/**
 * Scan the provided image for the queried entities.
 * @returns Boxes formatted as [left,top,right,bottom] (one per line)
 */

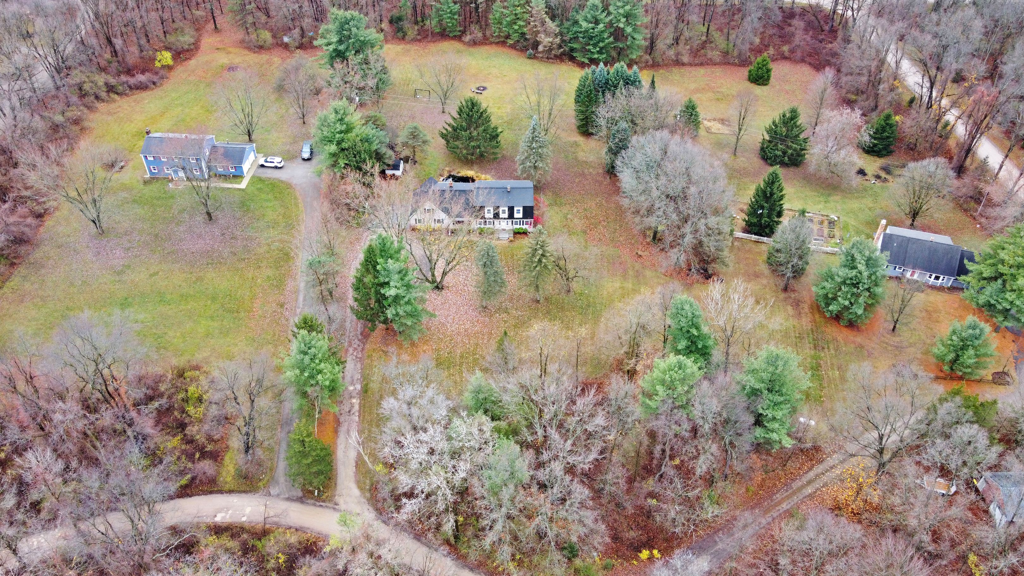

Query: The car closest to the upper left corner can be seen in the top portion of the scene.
[257,156,284,169]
